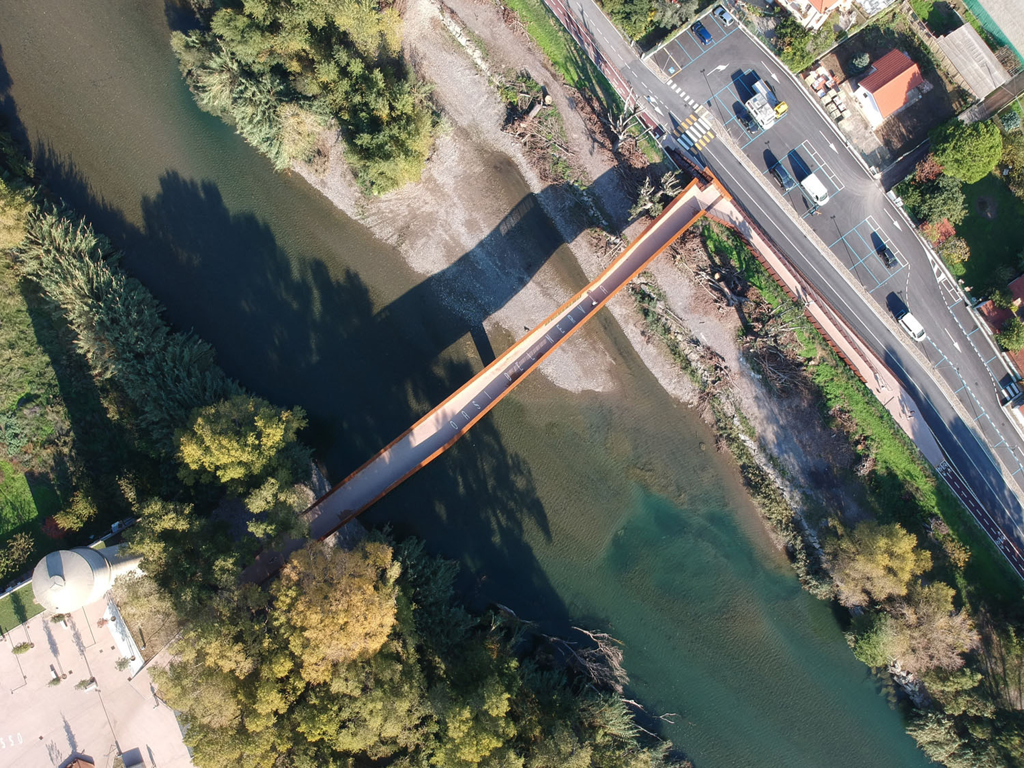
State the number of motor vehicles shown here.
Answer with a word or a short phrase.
nine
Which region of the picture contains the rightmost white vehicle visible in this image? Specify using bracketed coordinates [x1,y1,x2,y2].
[898,314,926,342]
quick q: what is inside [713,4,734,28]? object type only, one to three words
car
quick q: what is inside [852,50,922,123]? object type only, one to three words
house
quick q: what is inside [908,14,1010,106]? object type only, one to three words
shed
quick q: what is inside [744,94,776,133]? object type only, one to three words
van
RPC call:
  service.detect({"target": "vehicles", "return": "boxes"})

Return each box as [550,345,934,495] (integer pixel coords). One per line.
[744,94,776,133]
[713,4,734,28]
[770,165,794,191]
[690,20,713,45]
[898,314,926,342]
[756,78,790,116]
[800,174,829,207]
[877,248,899,270]
[736,110,758,135]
